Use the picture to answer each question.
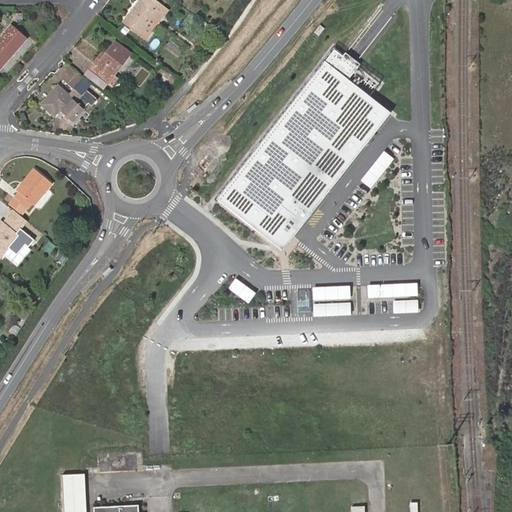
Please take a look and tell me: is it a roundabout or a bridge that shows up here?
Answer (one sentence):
There is a roundabout in the scene.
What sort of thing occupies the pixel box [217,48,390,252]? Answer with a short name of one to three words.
building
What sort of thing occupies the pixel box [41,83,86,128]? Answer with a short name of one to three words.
house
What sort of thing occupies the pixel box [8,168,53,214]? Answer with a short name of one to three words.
house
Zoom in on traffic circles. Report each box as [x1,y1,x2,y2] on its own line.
[95,138,178,220]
